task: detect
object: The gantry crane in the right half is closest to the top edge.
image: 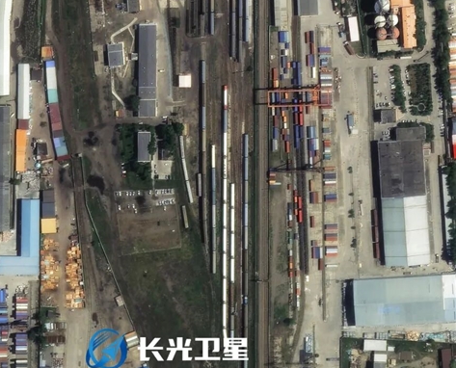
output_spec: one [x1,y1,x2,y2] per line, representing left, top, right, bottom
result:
[267,85,330,106]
